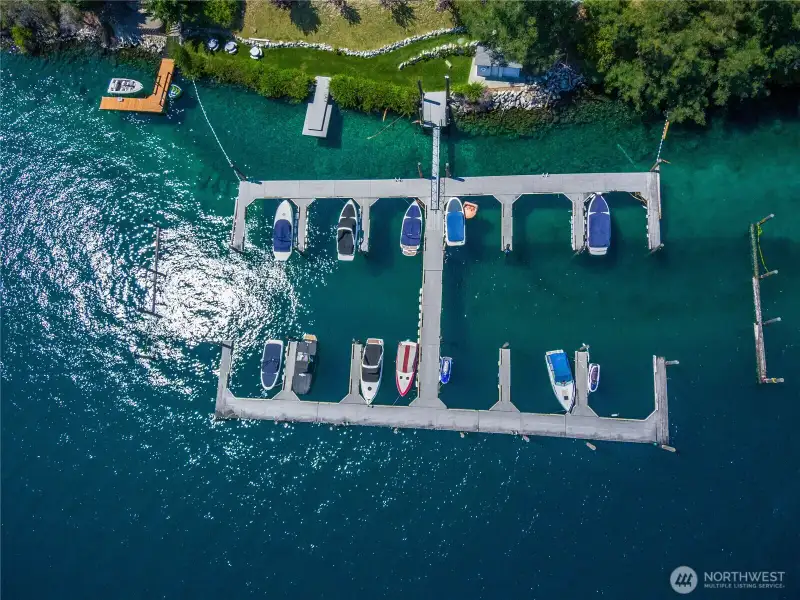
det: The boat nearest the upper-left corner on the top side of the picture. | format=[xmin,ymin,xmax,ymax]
[106,79,142,97]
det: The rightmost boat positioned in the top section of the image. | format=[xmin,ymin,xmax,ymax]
[585,194,611,256]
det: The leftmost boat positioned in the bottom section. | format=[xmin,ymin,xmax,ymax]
[260,340,285,390]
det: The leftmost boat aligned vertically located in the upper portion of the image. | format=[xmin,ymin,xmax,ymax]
[274,200,295,263]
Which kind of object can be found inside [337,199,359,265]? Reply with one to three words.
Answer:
boat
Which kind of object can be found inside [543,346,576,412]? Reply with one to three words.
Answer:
boat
